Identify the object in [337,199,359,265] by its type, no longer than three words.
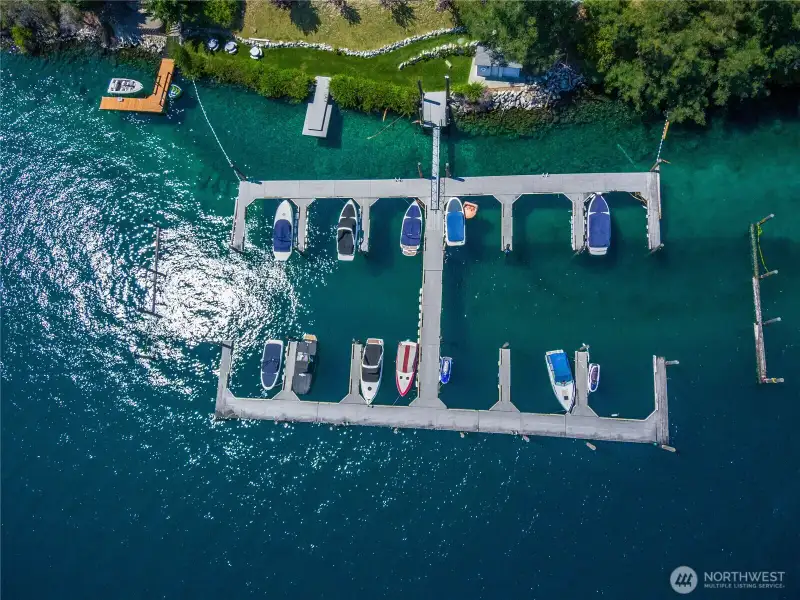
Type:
boat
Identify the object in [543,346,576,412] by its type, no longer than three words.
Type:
boat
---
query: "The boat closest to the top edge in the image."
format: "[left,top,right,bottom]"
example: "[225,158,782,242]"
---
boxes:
[106,79,142,97]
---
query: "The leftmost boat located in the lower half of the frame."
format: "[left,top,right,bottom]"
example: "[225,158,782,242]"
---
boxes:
[260,340,285,390]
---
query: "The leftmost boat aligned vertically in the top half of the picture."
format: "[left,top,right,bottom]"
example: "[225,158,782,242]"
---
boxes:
[274,200,295,263]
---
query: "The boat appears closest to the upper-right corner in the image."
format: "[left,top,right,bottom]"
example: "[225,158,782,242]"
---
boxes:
[585,194,611,256]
